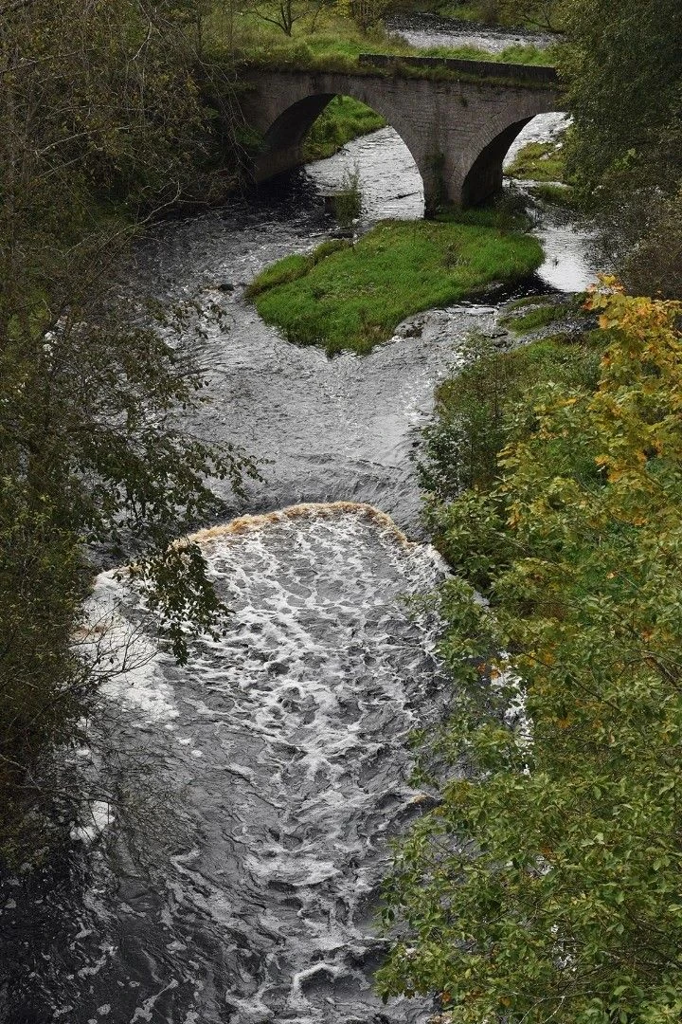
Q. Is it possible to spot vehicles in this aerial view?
No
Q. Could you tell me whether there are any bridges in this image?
Yes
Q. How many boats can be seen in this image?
none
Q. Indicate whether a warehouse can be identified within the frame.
No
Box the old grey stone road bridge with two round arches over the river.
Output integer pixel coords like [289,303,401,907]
[101,52,681,236]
